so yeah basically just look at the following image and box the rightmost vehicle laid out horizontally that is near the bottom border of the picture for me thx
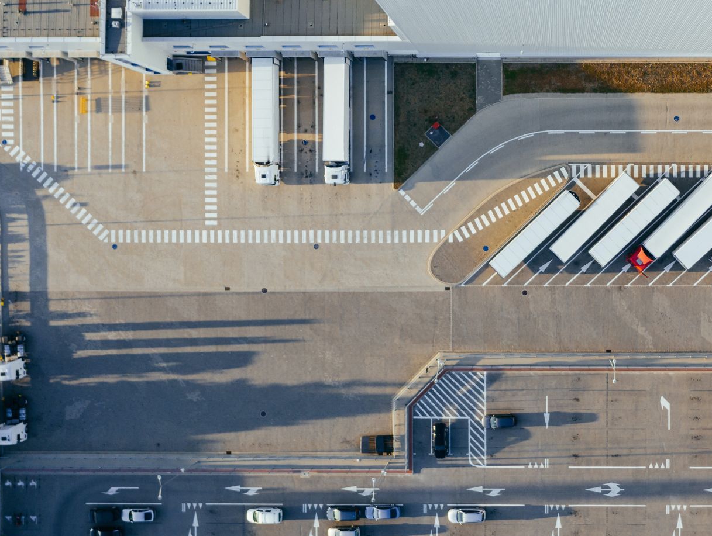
[448,506,486,524]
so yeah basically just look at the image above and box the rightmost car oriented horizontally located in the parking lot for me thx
[484,412,517,429]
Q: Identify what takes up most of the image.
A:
paved ground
